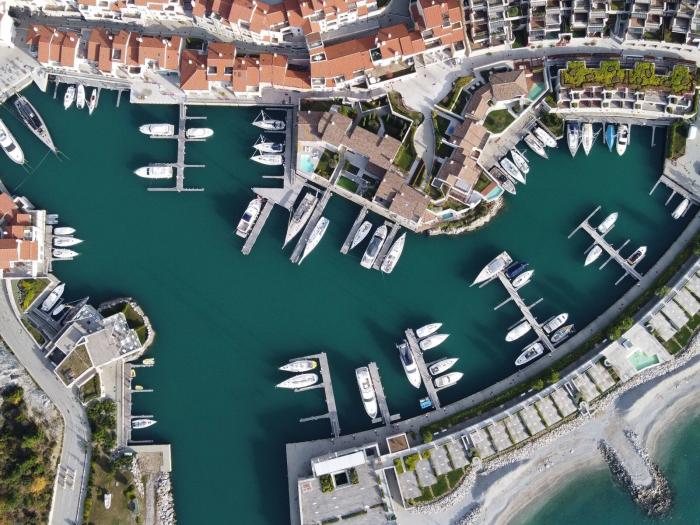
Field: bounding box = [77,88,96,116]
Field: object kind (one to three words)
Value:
boat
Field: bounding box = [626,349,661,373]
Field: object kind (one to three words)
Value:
swimming pool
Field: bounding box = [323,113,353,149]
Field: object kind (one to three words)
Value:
house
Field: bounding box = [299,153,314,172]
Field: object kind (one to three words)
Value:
swimming pool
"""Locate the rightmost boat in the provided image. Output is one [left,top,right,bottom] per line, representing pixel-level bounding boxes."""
[673,196,690,220]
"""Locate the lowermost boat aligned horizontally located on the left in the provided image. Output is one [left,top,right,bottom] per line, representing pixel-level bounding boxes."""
[131,418,159,432]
